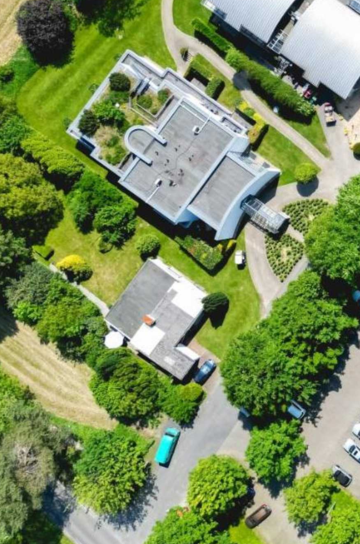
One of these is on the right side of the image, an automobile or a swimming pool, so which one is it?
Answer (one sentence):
What appears on the right side of the image is an automobile.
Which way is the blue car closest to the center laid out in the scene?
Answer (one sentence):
The blue car closest to the center has been laid out at an angle relative to the frame.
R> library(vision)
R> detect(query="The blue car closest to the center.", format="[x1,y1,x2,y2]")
[194,359,217,383]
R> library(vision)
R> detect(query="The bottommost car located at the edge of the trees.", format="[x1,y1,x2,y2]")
[247,503,272,525]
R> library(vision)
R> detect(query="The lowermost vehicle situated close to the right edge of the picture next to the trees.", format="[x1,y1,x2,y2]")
[331,465,355,486]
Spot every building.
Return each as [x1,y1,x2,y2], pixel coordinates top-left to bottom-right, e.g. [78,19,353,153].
[200,0,360,98]
[66,49,282,240]
[105,259,209,380]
